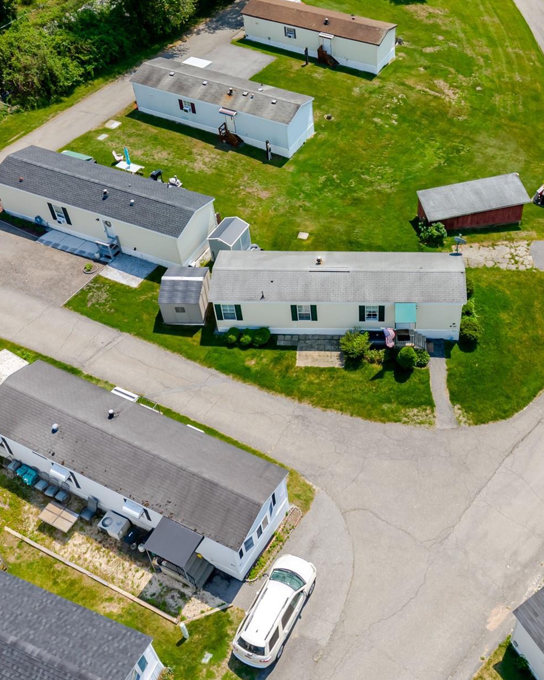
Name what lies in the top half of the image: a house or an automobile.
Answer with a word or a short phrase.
house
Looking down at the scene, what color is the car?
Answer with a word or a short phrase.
white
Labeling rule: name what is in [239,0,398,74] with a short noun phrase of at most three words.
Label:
house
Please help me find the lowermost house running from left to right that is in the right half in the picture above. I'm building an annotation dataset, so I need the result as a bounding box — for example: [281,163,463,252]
[207,247,467,344]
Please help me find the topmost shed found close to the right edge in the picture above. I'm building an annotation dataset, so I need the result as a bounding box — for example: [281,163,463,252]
[417,172,532,232]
